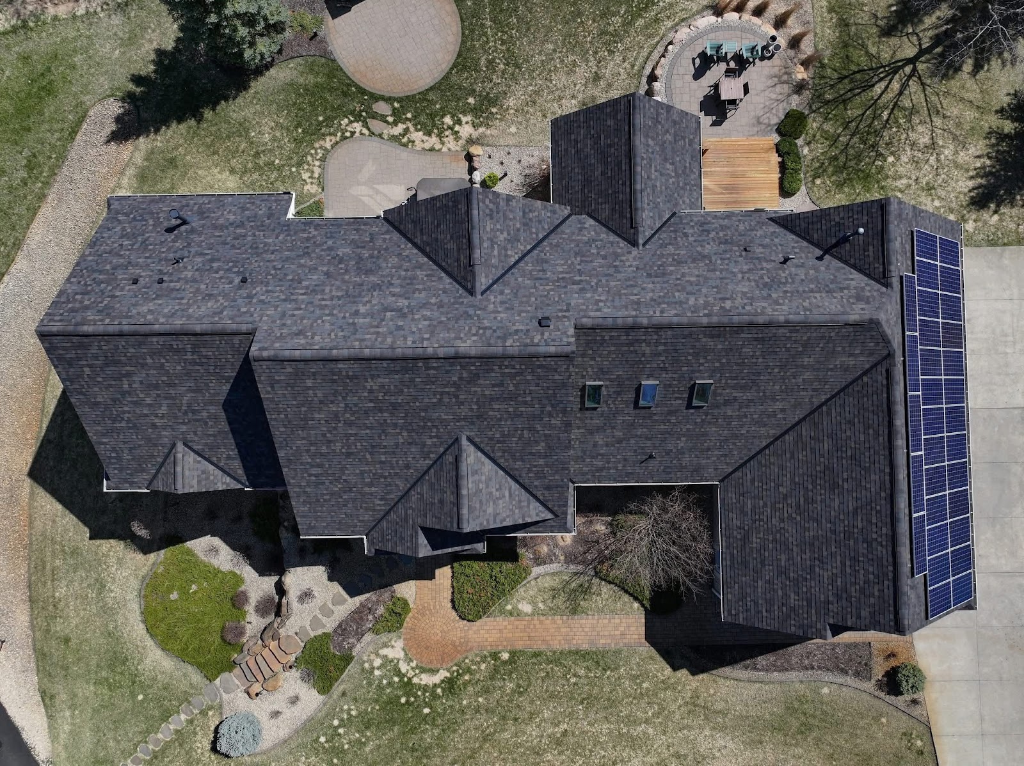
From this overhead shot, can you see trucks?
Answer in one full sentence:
No, no truck is visible in the view.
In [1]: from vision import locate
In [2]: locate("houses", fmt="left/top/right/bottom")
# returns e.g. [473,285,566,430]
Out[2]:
[37,92,979,639]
